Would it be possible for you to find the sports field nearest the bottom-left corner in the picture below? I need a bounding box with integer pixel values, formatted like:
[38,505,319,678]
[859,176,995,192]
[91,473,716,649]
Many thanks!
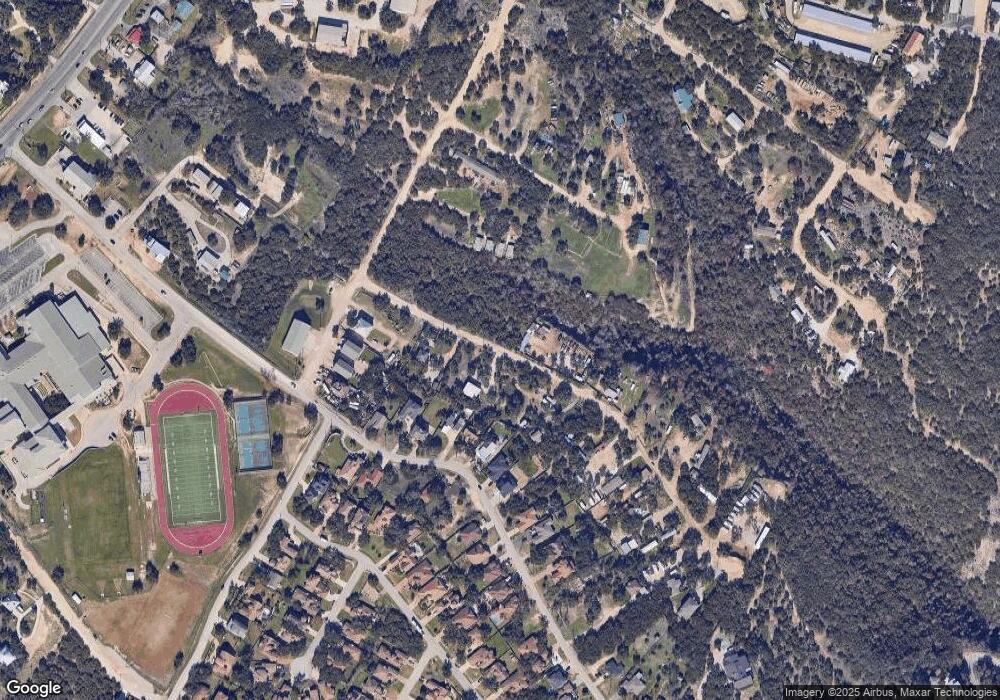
[70,452,130,596]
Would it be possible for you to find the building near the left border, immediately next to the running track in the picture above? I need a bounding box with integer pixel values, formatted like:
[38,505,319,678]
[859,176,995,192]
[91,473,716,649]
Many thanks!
[0,296,112,478]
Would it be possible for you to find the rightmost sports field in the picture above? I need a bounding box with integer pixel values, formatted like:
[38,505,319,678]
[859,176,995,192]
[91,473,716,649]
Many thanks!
[158,411,227,527]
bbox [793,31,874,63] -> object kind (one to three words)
building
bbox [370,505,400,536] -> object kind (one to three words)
house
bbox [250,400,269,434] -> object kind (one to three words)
tennis court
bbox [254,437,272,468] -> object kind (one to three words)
tennis court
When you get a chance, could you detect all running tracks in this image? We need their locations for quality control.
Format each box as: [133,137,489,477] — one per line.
[149,379,236,557]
